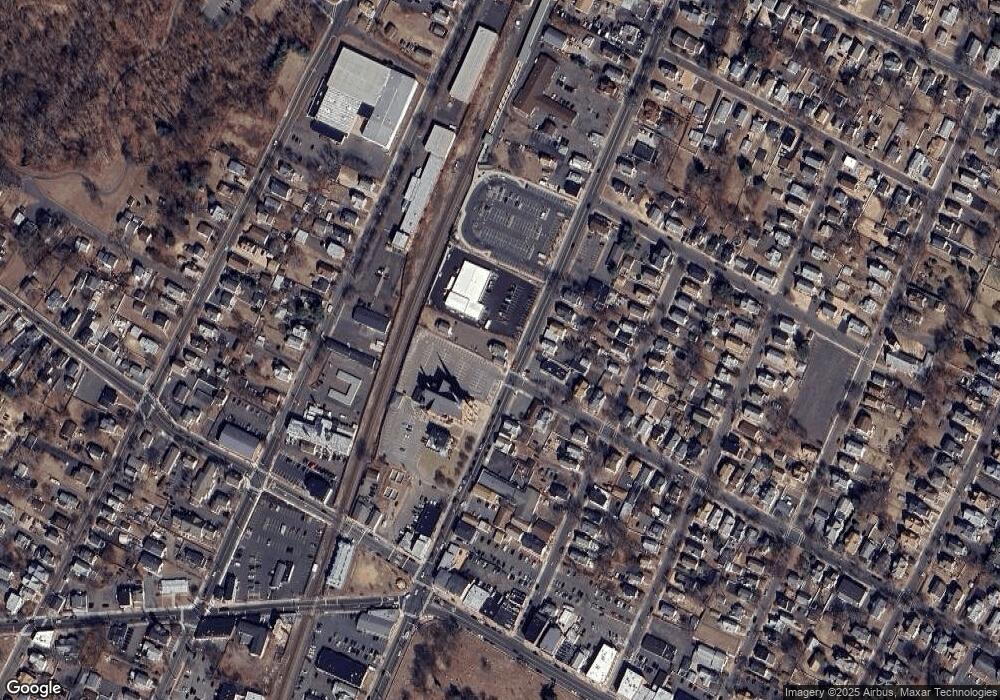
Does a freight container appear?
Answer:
No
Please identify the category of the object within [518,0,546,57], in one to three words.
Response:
shed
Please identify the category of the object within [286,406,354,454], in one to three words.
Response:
building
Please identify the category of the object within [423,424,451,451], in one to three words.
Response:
house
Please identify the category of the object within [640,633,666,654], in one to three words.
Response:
house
